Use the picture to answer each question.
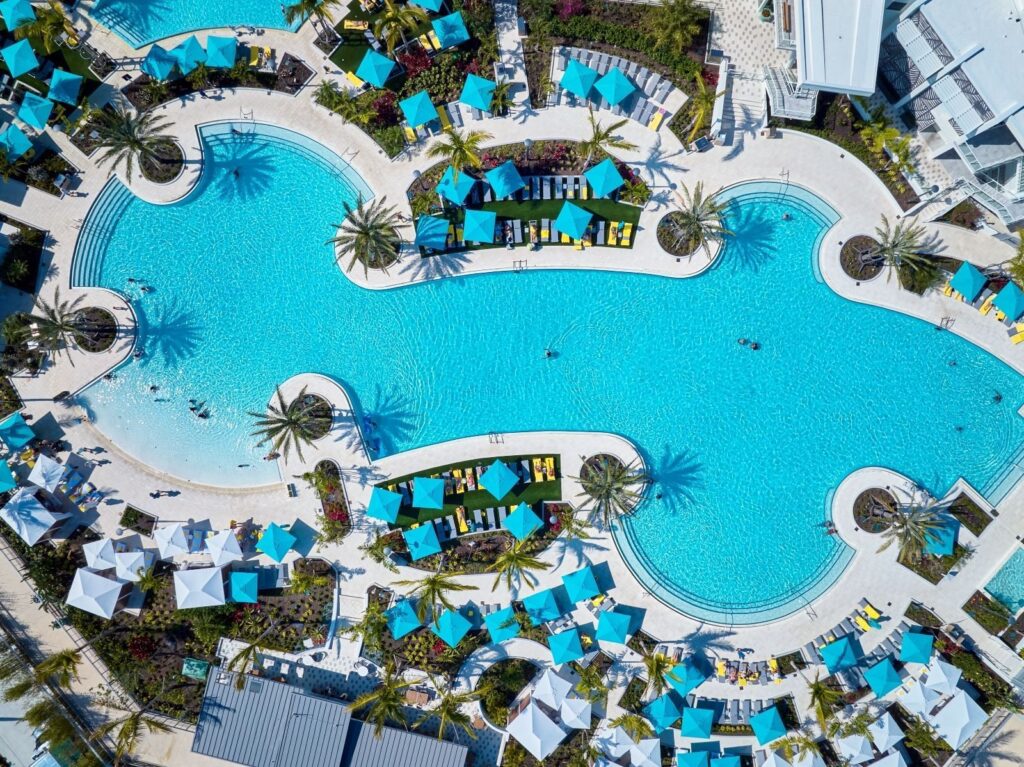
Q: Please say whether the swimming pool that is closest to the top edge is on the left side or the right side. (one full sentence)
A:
The swimming pool that is closest to the top edge appears in the left half of the scene.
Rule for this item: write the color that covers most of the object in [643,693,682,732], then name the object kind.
blue umbrella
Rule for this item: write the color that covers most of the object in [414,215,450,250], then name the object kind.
blue umbrella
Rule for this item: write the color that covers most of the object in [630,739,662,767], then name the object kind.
white umbrella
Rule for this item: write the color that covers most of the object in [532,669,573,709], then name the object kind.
white umbrella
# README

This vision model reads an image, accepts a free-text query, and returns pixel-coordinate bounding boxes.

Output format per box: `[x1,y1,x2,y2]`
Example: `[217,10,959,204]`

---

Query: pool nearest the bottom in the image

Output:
[72,120,1024,625]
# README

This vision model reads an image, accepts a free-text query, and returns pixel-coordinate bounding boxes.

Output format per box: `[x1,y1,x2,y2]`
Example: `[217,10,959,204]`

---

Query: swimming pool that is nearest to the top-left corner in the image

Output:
[90,0,322,48]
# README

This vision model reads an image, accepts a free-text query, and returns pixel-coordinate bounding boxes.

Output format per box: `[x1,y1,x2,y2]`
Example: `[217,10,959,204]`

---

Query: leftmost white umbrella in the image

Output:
[29,455,65,491]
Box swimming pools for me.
[90,0,322,48]
[72,120,1024,625]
